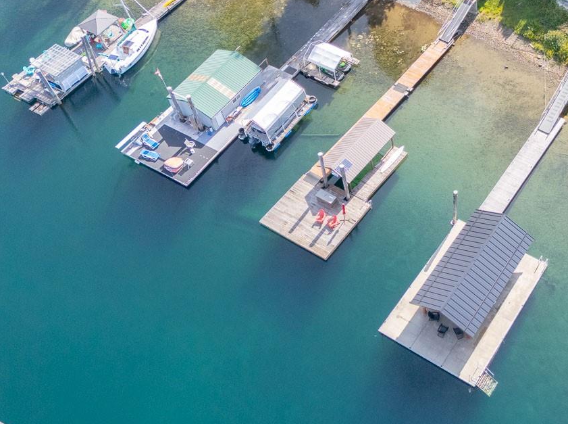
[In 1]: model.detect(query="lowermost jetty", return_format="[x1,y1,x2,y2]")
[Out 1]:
[378,219,549,389]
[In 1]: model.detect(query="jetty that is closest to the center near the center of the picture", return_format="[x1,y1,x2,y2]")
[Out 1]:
[259,173,372,262]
